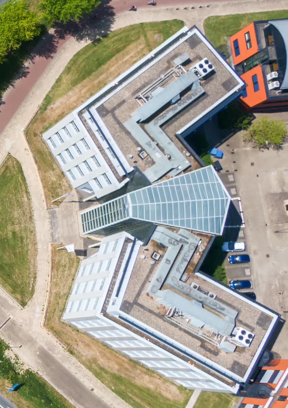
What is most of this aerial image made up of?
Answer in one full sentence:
Most of the picture is covered by buildings.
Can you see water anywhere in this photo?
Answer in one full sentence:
No, there is no water in the image.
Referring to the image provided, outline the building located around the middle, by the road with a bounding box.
[51,24,282,394]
